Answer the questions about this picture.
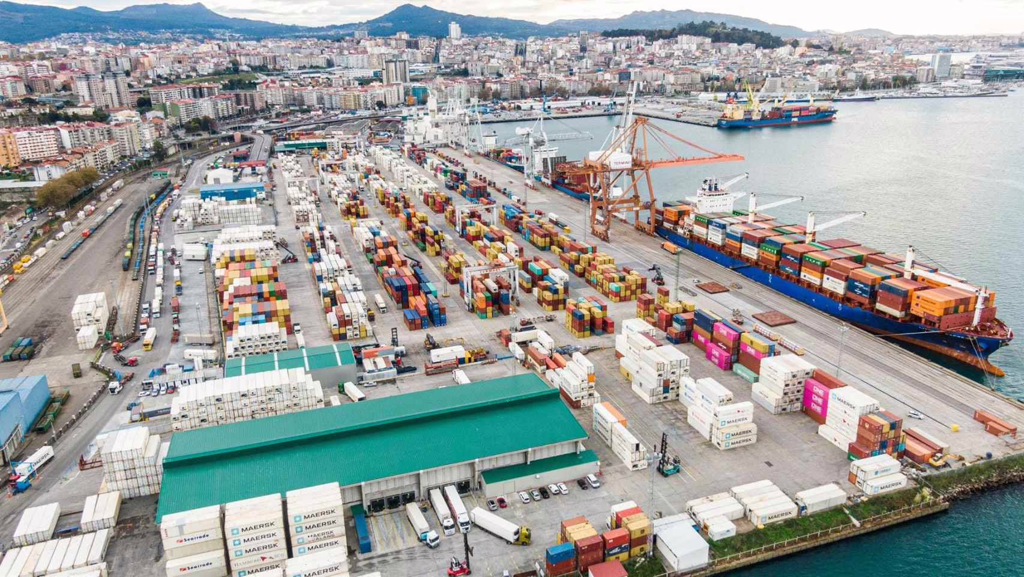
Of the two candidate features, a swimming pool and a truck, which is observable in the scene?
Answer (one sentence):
Of the two, only a truck appears.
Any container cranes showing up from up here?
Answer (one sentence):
Yes, there is a container crane in the image.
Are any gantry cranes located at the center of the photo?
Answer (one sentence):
Yes, a gantry crane is visible at the center of the photo.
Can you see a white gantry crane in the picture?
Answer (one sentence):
Yes, looking at the shot, I can spot a white gantry crane.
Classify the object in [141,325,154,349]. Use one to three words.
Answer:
vehicle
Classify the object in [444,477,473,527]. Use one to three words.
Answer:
truck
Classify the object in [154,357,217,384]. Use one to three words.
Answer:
building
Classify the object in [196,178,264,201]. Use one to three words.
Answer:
building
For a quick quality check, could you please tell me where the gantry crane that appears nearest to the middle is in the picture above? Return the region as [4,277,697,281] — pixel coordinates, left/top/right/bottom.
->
[462,252,524,312]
